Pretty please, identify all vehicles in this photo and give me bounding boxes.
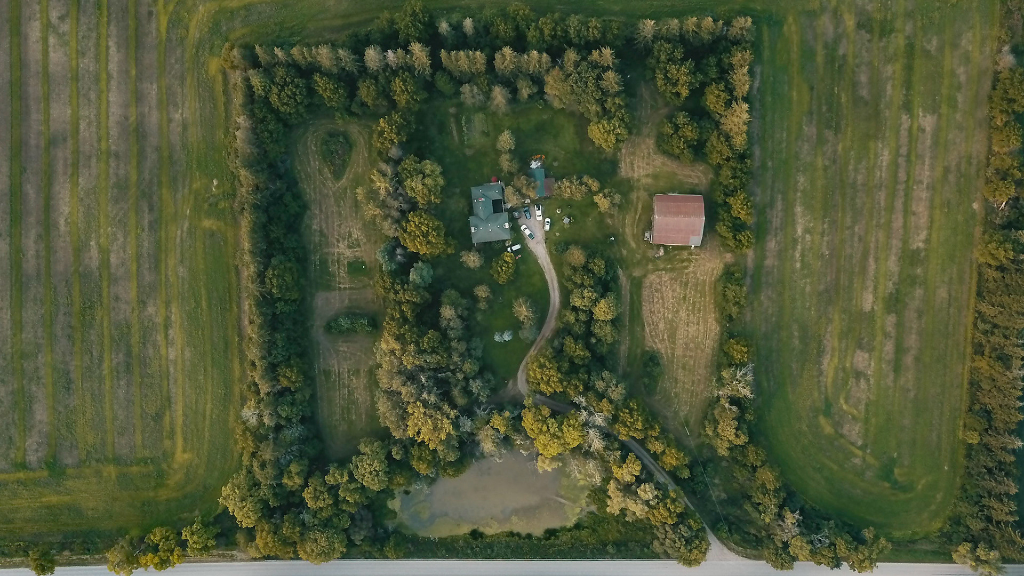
[520,224,535,241]
[544,218,551,231]
[523,206,531,220]
[512,209,520,219]
[507,243,521,252]
[535,203,542,221]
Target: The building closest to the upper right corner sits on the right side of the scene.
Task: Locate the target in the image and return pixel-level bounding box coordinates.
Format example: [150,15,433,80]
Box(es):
[651,195,705,246]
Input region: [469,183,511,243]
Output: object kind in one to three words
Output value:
house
